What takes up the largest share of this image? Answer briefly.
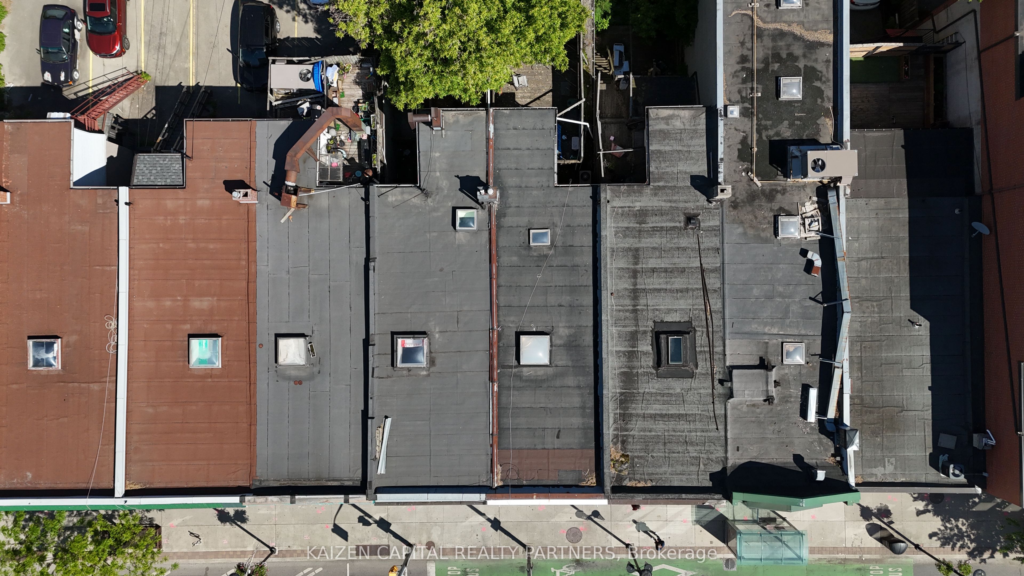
buildings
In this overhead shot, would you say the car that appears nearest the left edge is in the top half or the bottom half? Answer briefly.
top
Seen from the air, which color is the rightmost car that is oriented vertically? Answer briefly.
black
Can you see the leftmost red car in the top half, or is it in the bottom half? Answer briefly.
top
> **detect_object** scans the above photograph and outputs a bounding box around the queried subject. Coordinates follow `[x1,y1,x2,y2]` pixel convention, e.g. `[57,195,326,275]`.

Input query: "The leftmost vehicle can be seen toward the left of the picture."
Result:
[34,4,80,88]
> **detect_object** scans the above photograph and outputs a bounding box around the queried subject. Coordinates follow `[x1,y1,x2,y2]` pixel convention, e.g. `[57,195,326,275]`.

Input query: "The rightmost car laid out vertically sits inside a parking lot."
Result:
[235,0,281,91]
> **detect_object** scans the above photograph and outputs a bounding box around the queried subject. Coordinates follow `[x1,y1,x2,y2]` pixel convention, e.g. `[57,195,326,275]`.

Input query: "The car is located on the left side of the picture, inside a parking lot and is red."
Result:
[81,0,131,61]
